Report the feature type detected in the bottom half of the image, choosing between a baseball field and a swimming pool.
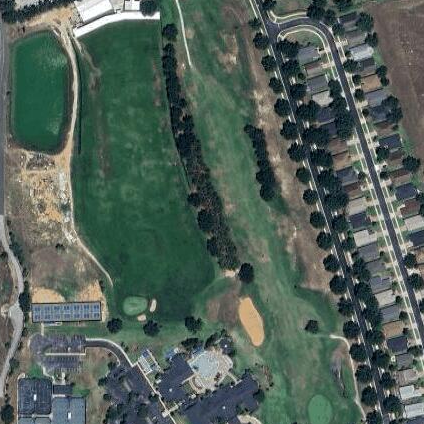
swimming pool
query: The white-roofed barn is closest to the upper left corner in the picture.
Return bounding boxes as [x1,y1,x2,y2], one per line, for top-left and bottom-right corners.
[75,0,112,21]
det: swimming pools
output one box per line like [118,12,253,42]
[189,345,233,393]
